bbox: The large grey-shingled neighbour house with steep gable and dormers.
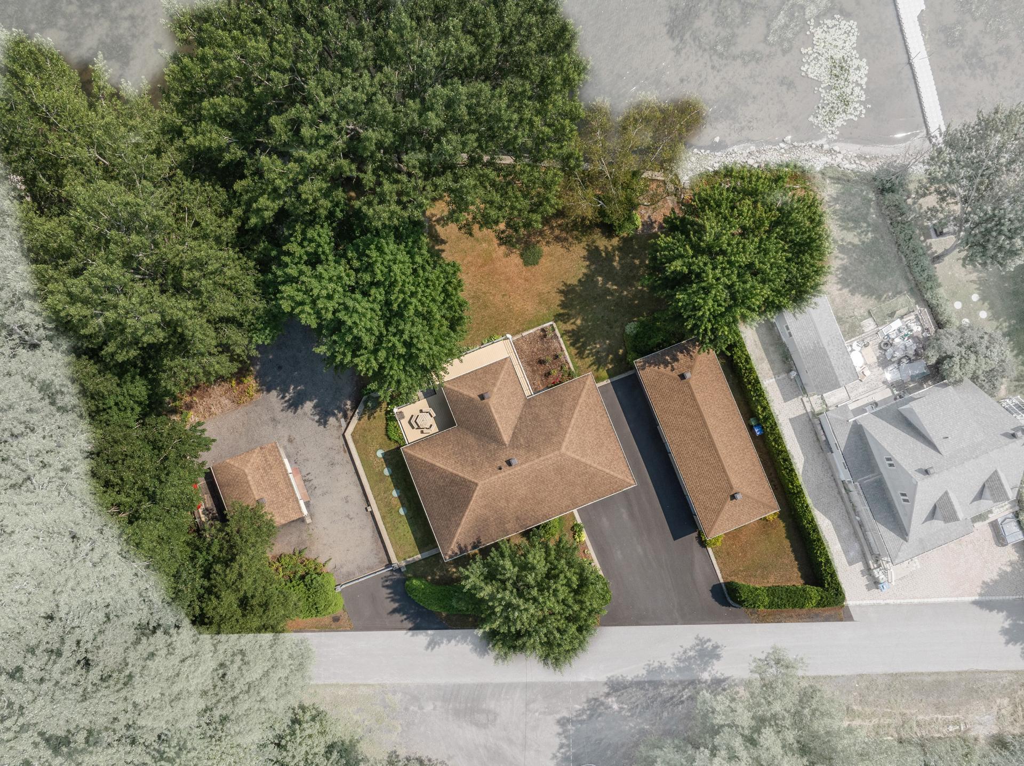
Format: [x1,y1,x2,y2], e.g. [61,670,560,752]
[811,376,1024,566]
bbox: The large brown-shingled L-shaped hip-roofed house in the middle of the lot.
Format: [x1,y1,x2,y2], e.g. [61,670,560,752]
[400,355,637,562]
